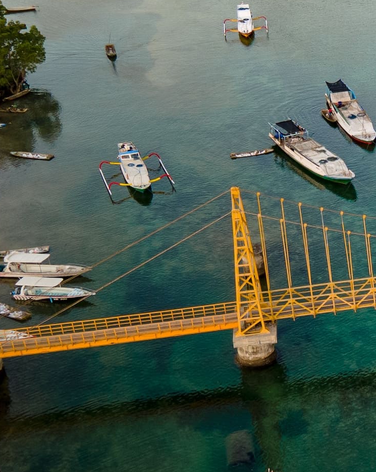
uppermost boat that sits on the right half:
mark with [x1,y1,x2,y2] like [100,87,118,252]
[222,4,270,39]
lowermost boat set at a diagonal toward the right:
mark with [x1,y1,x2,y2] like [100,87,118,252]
[260,119,355,187]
